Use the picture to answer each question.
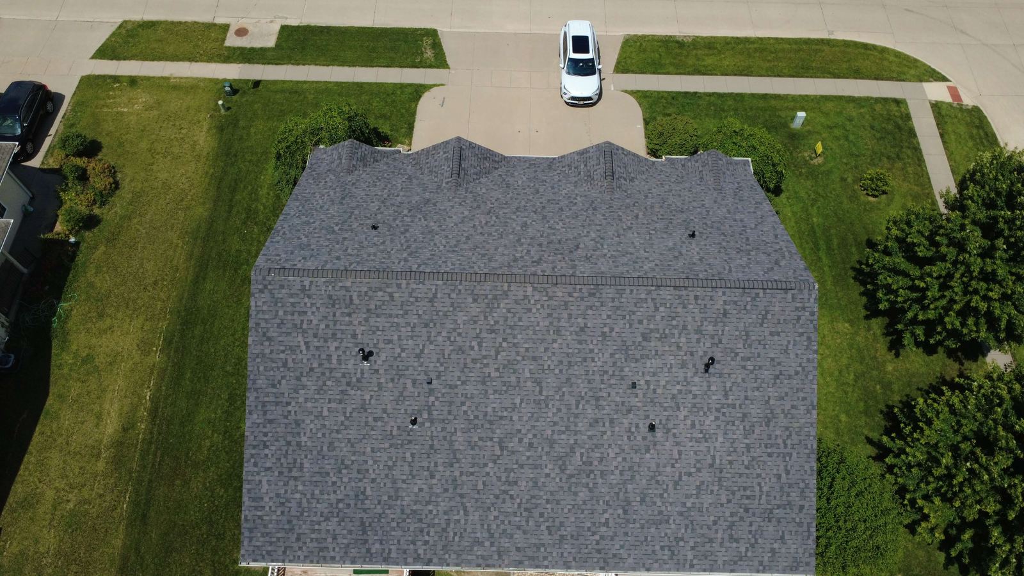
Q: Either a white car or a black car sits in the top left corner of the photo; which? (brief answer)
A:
black car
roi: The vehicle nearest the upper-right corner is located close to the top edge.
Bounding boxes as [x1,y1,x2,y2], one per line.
[558,23,603,106]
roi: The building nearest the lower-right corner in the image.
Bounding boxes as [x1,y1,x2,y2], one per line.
[239,133,818,576]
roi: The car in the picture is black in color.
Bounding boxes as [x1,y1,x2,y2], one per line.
[0,80,51,167]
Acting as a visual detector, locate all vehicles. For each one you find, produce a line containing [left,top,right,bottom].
[0,80,51,167]
[558,23,603,106]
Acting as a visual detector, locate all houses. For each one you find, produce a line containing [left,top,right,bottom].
[0,140,38,356]
[239,133,818,576]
